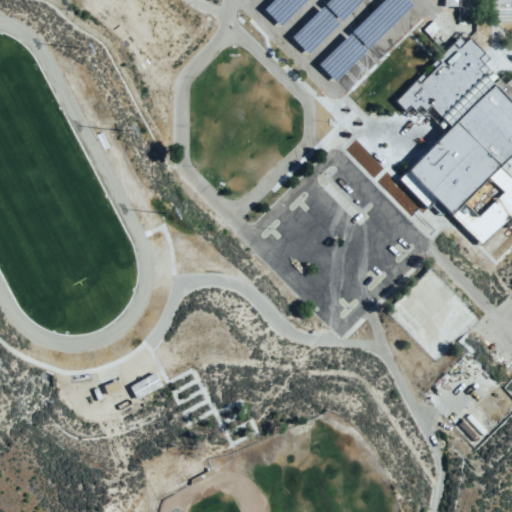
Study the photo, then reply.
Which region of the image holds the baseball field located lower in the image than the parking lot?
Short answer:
bottom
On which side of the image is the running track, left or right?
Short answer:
left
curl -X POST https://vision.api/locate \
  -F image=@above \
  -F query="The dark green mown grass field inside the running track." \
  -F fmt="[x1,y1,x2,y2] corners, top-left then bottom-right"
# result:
[0,34,137,334]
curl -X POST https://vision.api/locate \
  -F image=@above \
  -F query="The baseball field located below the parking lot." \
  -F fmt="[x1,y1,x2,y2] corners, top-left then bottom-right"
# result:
[159,414,402,512]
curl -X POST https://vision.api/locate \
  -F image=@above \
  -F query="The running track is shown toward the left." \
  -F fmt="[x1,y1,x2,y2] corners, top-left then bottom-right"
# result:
[0,13,157,354]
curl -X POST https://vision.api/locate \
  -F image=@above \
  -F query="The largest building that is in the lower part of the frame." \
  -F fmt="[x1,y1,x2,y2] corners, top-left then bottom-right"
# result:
[131,372,164,399]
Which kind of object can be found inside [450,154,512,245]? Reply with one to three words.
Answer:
building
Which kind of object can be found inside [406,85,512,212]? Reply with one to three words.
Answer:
building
